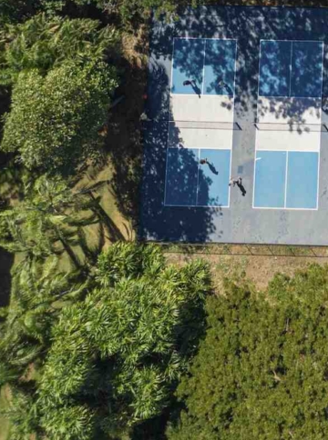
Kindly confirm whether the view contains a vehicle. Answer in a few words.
No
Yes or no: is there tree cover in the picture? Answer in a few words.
Yes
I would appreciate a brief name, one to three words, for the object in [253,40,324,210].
sports court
